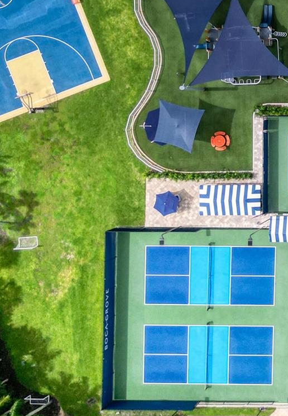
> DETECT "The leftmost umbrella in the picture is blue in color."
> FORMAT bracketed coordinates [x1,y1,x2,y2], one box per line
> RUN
[137,110,160,144]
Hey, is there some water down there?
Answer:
No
